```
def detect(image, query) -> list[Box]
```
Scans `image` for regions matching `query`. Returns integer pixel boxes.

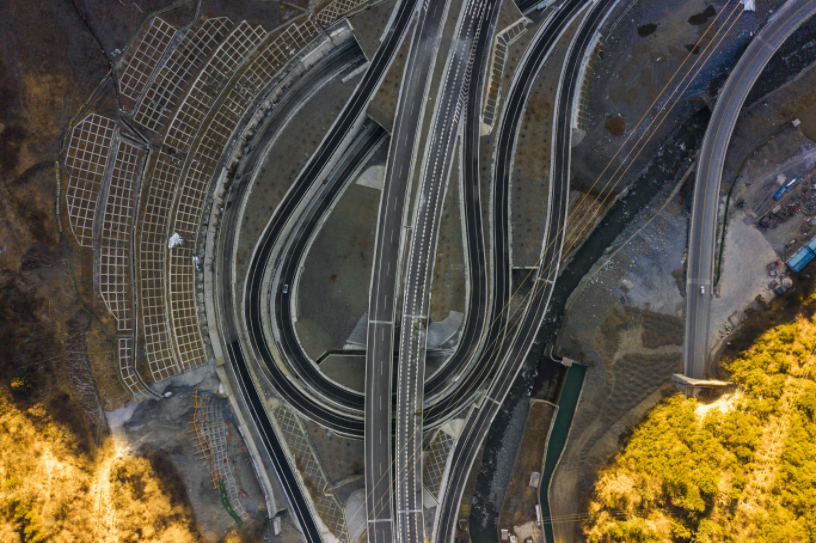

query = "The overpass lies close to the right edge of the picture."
[682,0,816,383]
